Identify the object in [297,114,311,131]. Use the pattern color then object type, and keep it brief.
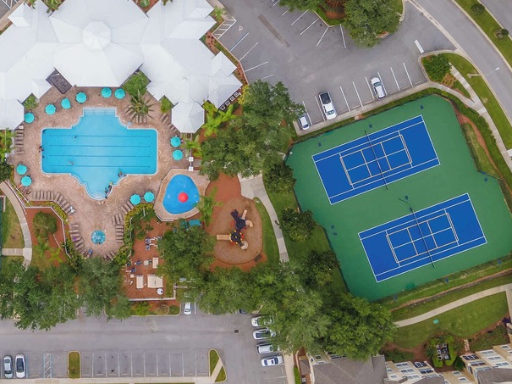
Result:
white vehicle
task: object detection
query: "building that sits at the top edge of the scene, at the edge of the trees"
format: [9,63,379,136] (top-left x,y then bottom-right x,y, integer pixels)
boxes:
[0,0,243,132]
